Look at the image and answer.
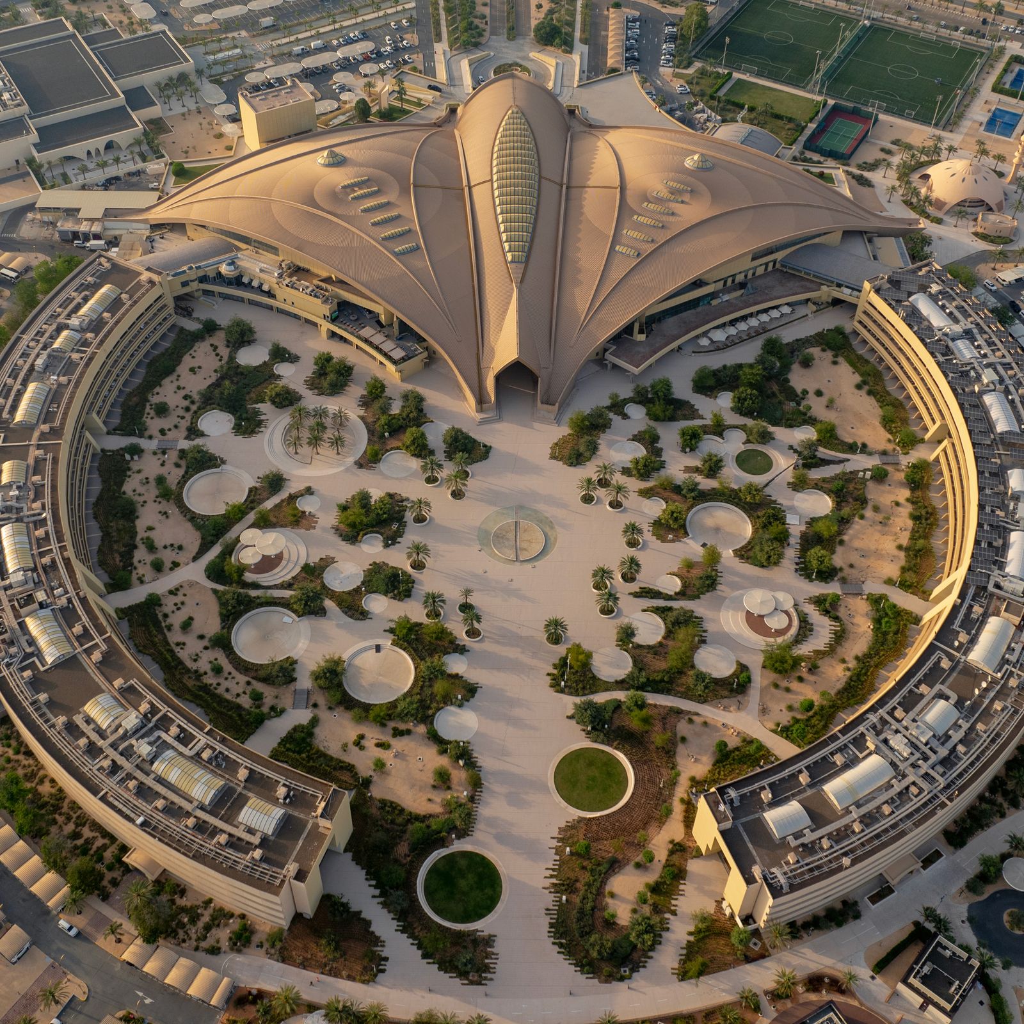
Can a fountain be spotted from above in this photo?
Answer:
Yes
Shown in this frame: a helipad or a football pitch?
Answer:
football pitch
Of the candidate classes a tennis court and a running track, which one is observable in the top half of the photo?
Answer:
tennis court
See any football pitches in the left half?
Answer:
No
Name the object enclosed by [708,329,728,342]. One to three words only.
umbrella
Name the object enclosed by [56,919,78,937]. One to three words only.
car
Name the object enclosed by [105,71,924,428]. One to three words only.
building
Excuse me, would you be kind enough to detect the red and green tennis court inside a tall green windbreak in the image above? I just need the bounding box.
[808,104,873,152]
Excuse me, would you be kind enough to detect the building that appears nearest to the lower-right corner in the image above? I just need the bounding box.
[894,934,980,1024]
